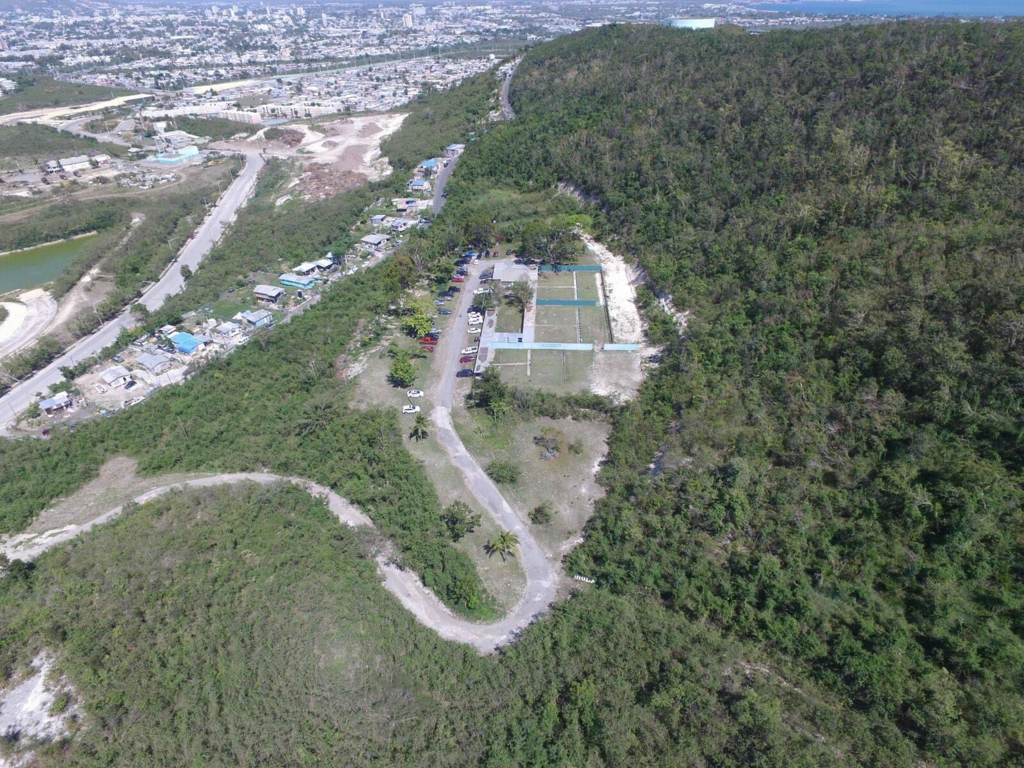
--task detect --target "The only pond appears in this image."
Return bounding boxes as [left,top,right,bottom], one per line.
[0,237,86,293]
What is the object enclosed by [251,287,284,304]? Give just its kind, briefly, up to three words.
house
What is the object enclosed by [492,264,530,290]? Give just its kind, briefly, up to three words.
building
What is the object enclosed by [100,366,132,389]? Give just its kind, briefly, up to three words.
house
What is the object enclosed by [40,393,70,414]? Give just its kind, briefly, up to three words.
shed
